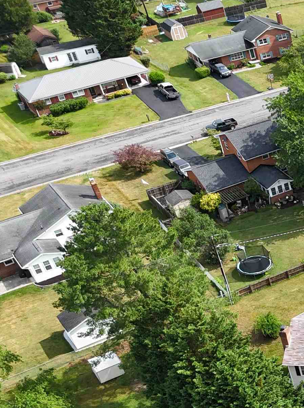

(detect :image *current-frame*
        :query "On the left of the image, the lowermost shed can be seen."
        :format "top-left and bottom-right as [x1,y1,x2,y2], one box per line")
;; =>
[89,348,126,386]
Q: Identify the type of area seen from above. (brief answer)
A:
residential area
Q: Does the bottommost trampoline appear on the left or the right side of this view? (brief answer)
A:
right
